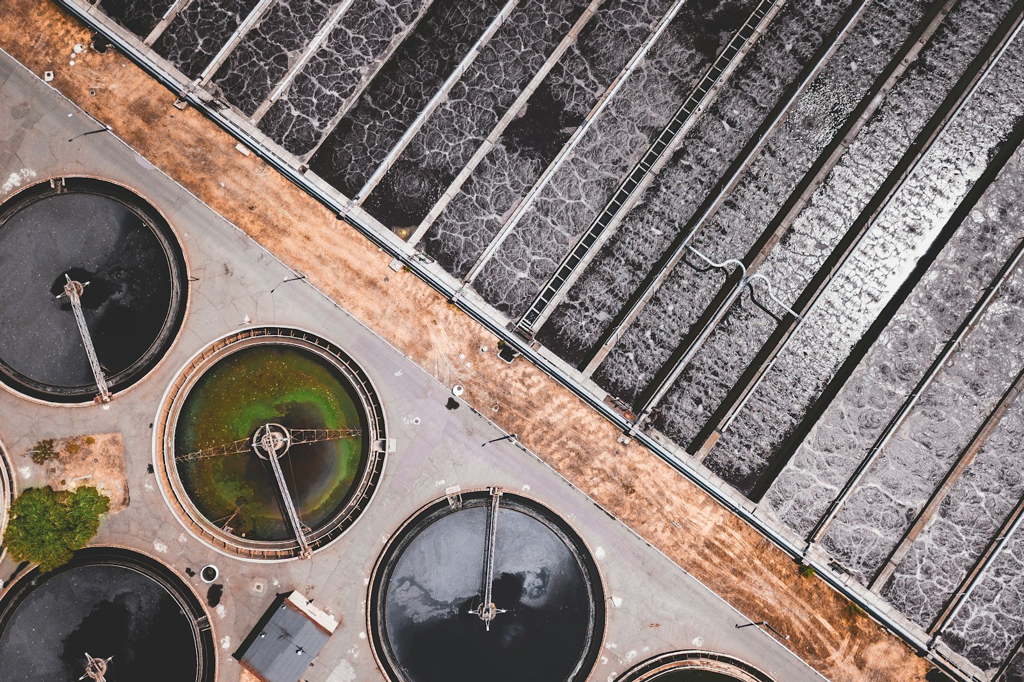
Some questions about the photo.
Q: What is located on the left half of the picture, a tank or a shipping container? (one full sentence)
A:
Visible on the left half of the picture is a tank.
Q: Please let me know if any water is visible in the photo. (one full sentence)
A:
Yes, some water is visible.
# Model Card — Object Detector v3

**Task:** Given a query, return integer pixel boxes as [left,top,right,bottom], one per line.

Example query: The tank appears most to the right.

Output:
[613,648,776,682]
